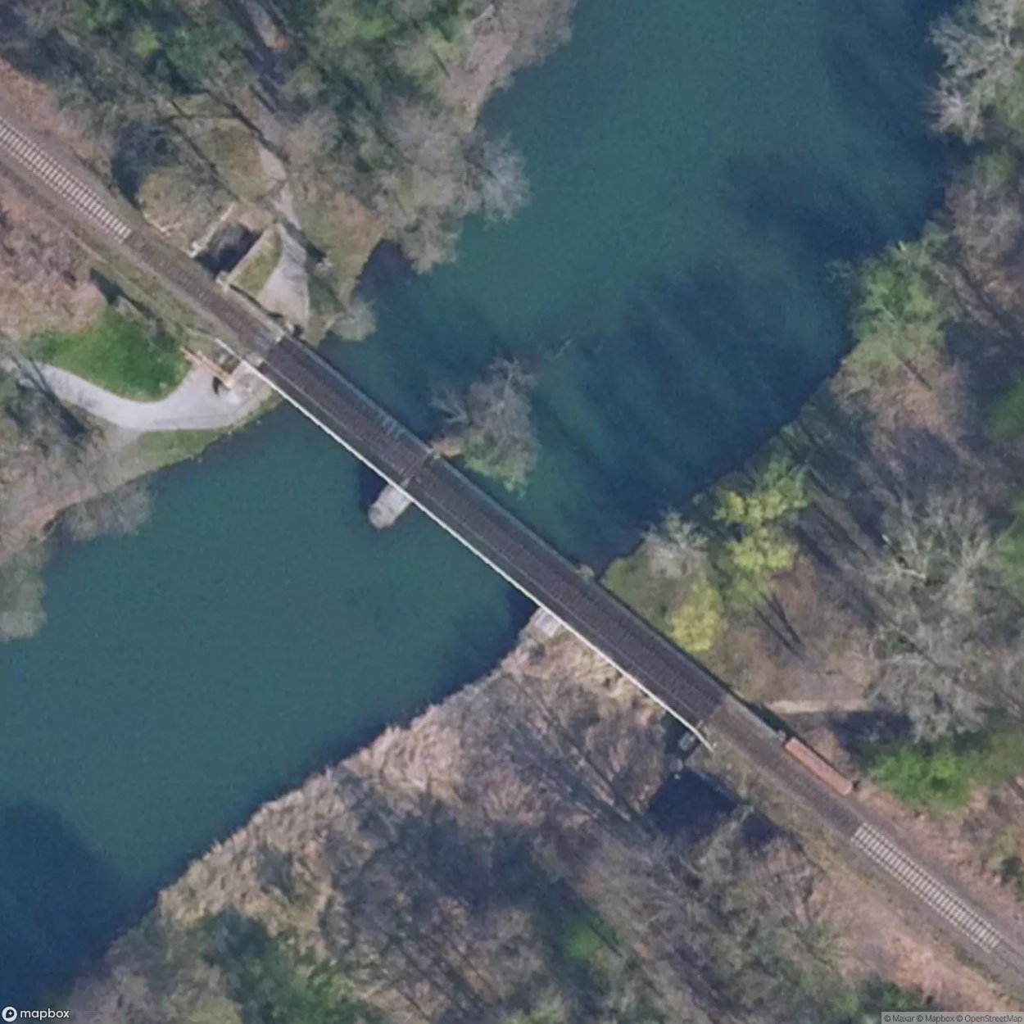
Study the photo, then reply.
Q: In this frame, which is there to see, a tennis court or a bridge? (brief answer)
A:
bridge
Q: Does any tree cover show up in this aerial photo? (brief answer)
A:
Yes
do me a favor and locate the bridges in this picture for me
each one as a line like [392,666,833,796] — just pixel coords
[217,284,796,787]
